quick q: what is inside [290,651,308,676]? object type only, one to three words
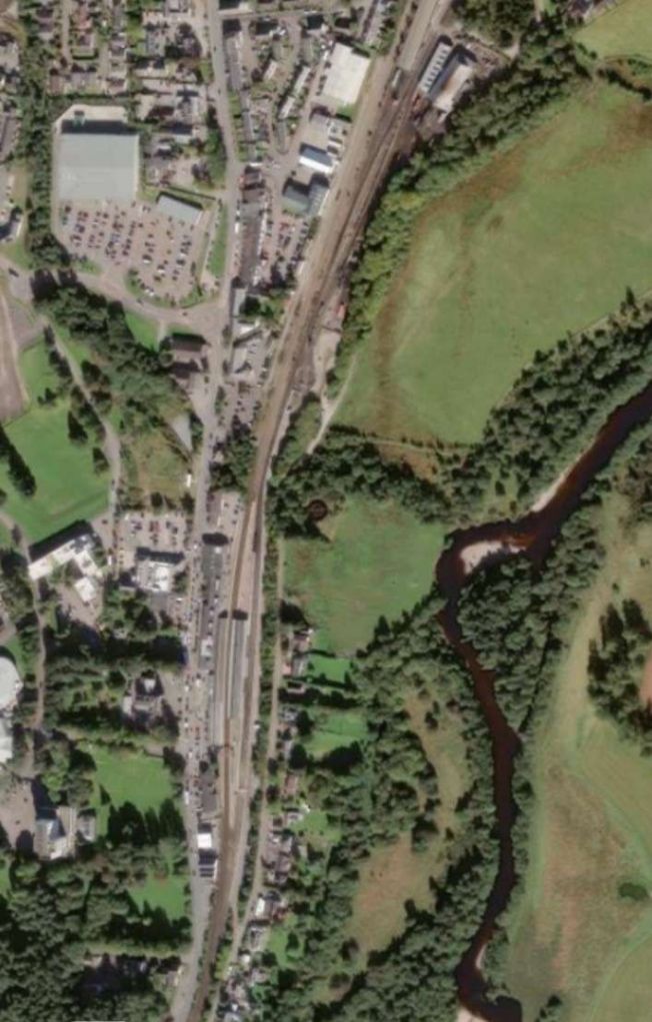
house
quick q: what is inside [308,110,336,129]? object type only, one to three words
building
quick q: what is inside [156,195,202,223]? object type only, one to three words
building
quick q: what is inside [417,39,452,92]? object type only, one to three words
shed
